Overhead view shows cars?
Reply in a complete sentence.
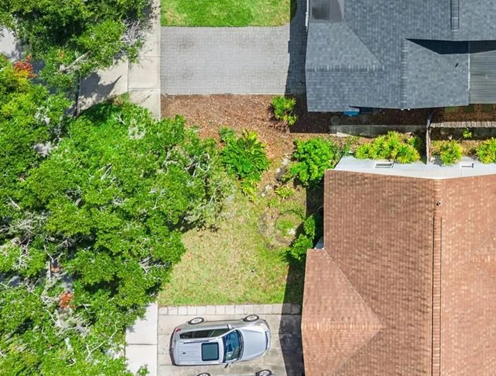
Yes, the photo shows a car.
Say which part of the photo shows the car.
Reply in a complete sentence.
The car is located in the bottom region of the scene.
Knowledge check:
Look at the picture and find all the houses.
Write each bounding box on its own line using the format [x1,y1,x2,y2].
[302,0,496,112]
[297,157,496,376]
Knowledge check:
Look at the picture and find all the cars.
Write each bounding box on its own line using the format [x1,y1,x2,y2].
[170,318,272,373]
